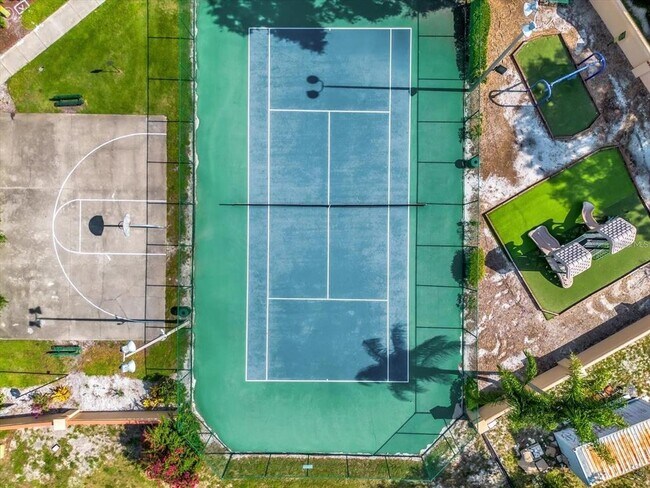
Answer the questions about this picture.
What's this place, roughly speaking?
sports ground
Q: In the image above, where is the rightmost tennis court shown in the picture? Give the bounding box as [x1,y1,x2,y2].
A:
[194,0,465,456]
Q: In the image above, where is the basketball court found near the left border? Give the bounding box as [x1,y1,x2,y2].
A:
[0,113,166,340]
